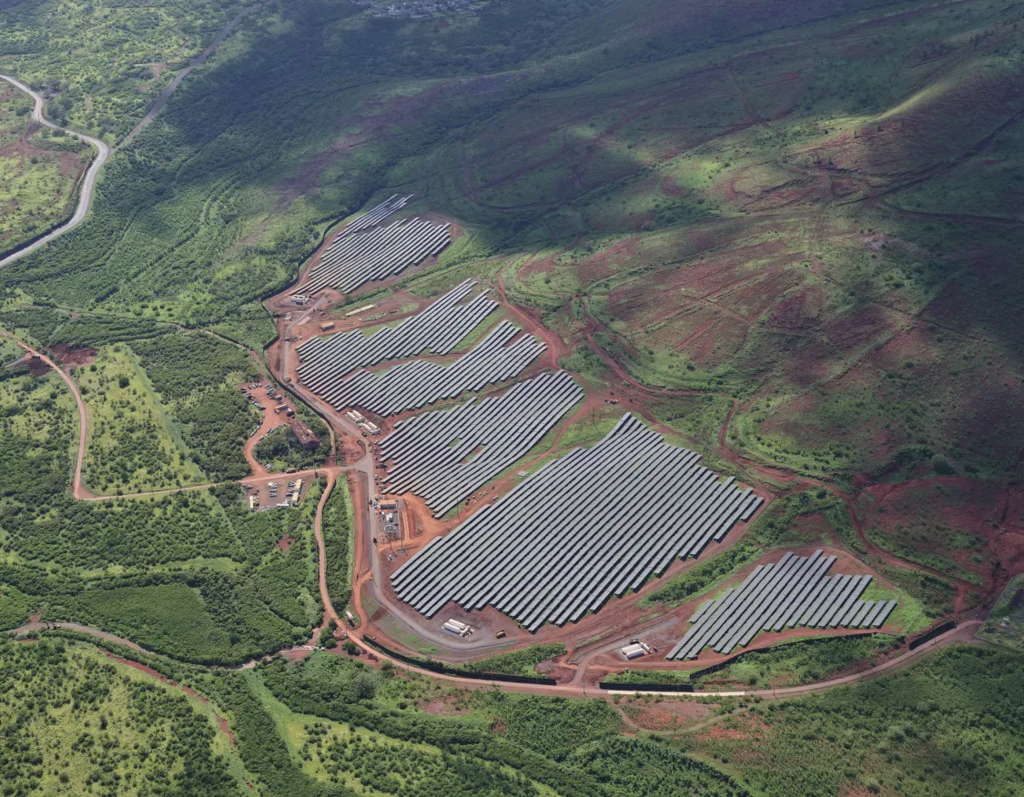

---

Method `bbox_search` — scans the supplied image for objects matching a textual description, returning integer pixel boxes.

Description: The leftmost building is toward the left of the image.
[286,413,321,445]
